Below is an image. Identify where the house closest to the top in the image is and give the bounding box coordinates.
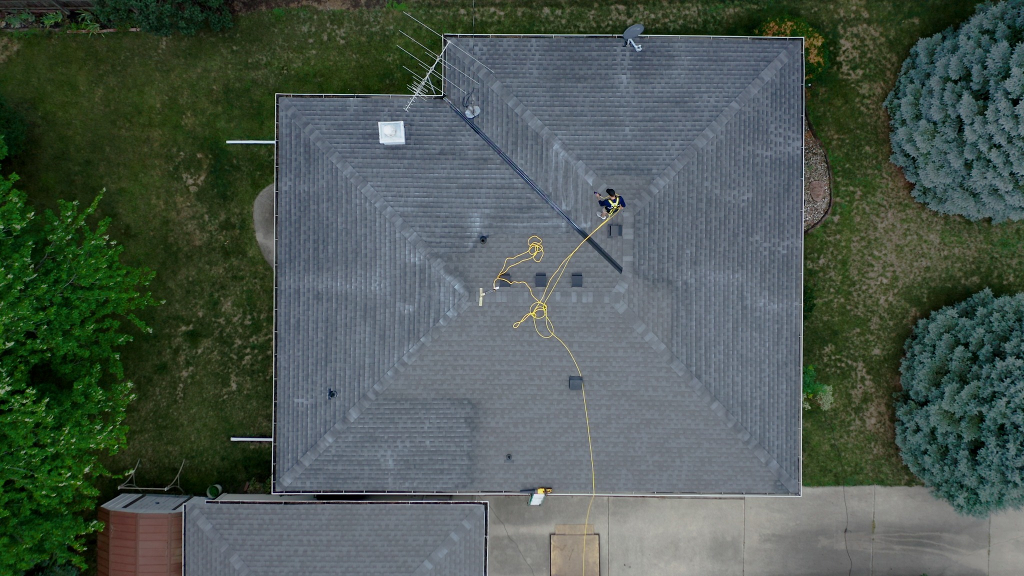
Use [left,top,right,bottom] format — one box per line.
[226,36,804,497]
